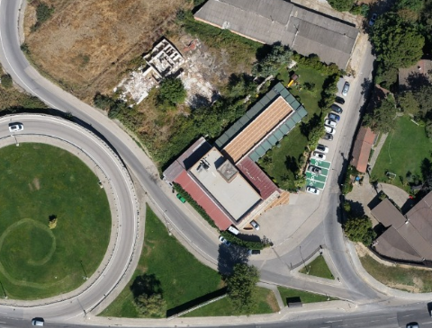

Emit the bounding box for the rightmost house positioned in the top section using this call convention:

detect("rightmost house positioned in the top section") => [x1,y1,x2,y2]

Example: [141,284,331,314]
[398,60,432,87]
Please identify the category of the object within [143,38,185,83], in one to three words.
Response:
house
